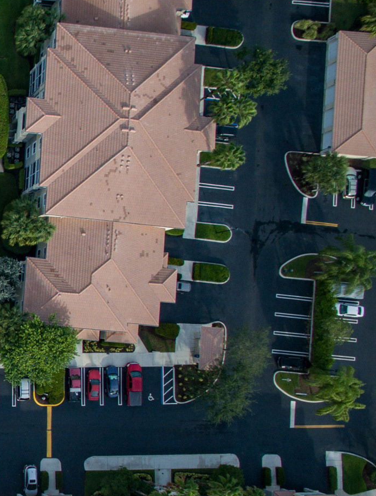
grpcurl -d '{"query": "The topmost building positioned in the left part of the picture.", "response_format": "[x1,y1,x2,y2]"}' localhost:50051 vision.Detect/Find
[8,0,216,345]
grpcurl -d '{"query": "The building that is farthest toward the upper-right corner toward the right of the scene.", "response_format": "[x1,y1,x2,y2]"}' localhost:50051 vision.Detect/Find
[322,29,376,158]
